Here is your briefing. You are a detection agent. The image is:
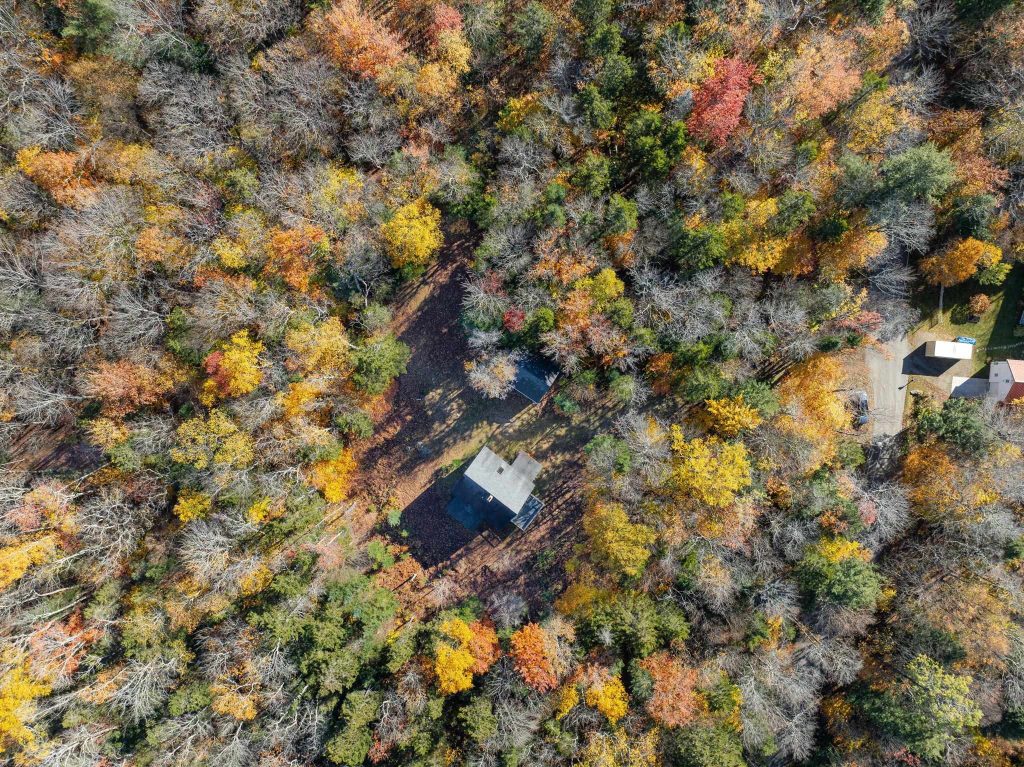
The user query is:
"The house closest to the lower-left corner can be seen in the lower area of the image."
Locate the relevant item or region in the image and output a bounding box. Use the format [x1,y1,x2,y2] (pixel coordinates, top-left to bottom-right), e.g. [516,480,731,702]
[439,445,545,533]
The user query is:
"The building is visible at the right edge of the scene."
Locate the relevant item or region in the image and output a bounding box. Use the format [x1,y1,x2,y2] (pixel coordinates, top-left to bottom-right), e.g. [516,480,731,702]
[989,359,1024,403]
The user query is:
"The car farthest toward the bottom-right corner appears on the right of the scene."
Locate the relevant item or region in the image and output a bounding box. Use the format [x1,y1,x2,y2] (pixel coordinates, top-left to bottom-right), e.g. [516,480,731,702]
[854,393,871,424]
